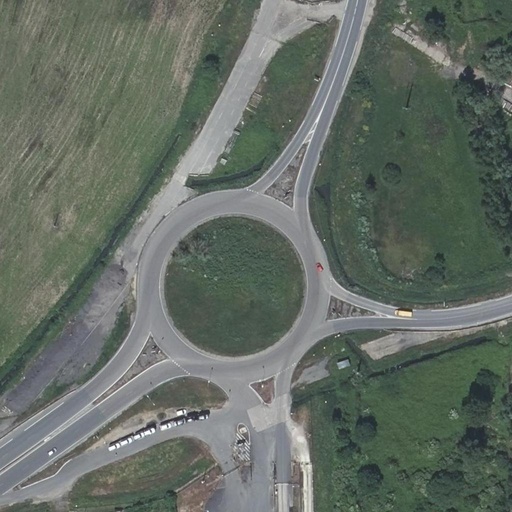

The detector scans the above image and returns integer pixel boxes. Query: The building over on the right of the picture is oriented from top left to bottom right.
[392,26,440,64]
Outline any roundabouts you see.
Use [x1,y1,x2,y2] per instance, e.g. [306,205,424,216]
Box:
[84,182,362,420]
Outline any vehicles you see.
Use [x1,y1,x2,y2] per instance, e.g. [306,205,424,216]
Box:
[394,310,413,316]
[316,263,322,272]
[132,432,144,440]
[176,409,186,415]
[178,419,188,424]
[198,414,209,420]
[160,424,172,430]
[120,438,132,446]
[108,443,120,450]
[48,448,57,456]
[144,428,156,435]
